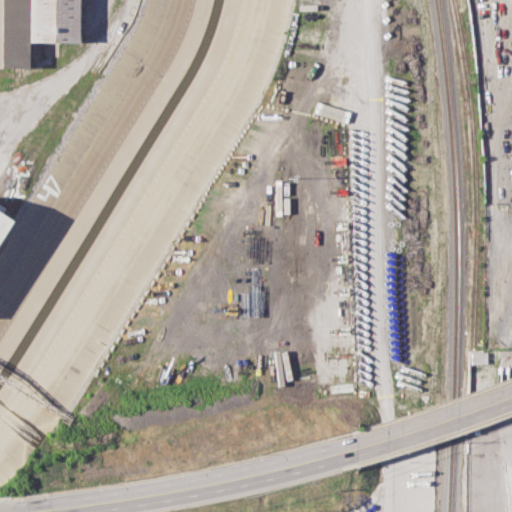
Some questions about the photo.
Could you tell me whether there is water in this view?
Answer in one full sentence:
Yes, water shows up in the scene.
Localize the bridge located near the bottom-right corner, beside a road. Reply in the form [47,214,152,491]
[354,377,512,466]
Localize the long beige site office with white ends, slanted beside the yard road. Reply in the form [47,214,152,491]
[314,104,352,125]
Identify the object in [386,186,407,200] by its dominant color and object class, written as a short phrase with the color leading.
white vehicle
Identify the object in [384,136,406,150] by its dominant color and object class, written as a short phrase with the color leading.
white vehicle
